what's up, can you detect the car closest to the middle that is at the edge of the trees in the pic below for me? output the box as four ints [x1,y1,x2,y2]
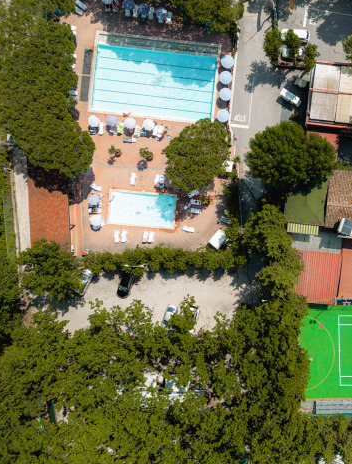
[117,266,136,295]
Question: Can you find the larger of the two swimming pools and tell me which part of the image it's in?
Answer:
top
